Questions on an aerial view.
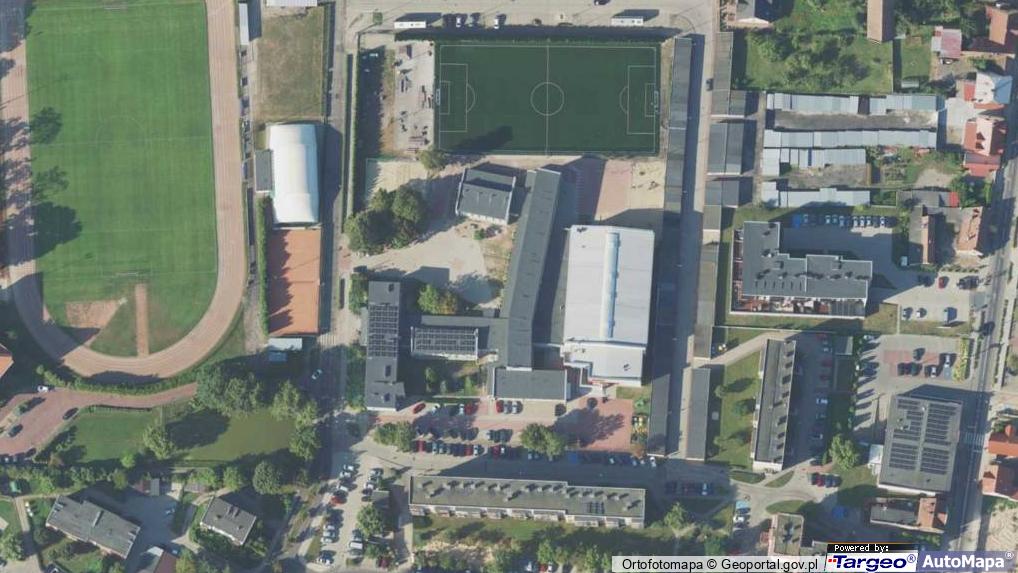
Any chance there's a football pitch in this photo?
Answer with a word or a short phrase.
Yes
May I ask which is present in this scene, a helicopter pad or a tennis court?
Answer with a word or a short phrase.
tennis court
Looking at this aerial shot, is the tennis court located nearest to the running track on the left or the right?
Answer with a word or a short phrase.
left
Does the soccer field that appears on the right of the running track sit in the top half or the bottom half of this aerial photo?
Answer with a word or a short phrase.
top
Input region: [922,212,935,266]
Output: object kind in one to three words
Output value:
house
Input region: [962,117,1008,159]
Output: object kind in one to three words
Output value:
house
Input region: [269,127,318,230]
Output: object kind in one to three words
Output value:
building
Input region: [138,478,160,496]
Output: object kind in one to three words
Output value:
shed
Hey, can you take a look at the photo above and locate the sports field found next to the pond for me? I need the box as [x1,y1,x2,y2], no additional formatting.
[26,0,217,358]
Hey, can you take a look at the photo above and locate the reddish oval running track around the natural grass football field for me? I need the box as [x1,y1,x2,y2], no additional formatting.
[0,0,245,386]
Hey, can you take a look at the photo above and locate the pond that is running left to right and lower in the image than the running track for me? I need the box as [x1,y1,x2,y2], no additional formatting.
[158,409,297,464]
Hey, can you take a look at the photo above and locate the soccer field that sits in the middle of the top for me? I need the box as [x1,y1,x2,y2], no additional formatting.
[434,42,659,154]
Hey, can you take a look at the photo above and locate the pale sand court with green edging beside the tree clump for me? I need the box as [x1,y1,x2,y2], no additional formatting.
[364,156,427,214]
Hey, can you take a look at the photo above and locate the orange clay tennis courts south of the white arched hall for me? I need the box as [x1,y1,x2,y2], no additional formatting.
[268,228,320,334]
